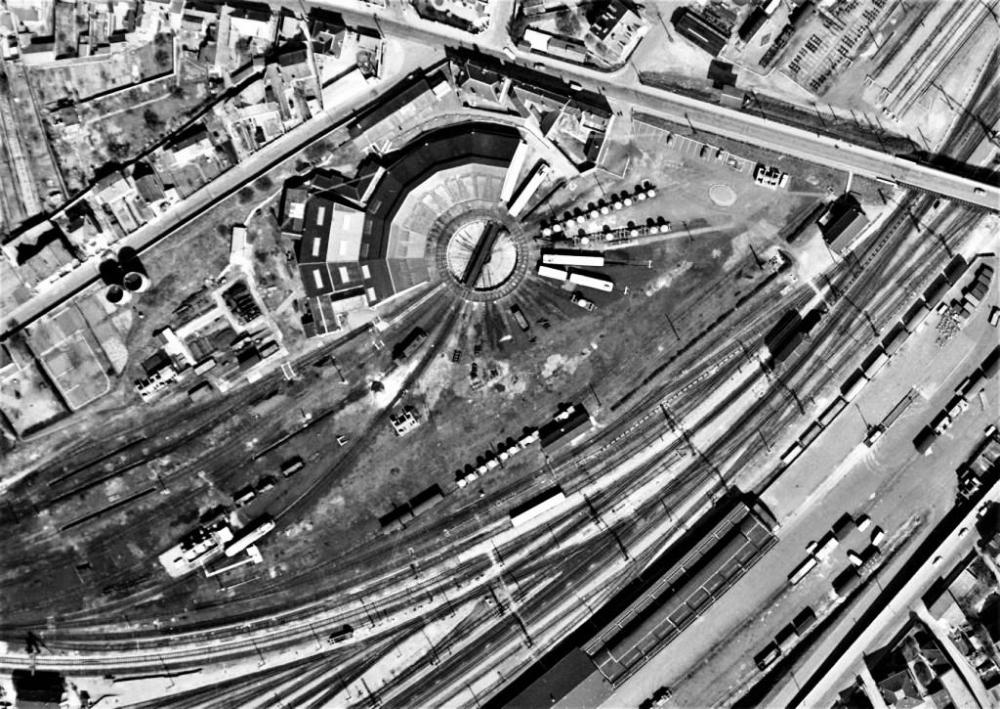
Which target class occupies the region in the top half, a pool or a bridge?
bridge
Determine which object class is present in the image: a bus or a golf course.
bus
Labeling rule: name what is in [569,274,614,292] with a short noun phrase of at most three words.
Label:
vehicle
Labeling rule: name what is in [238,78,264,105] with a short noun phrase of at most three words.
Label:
building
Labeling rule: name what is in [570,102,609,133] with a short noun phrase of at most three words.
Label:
house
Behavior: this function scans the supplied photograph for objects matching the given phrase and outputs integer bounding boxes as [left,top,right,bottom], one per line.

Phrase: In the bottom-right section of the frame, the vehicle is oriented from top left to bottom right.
[848,553,864,566]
